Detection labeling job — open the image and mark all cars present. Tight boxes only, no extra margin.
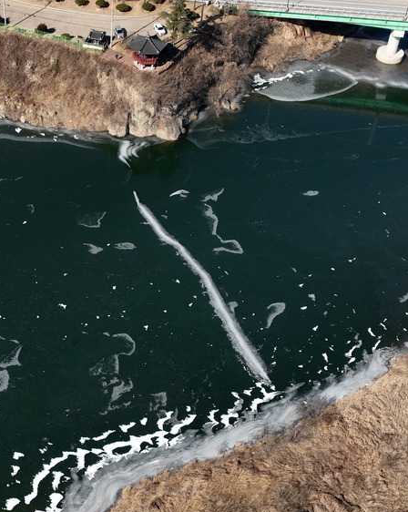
[154,21,167,34]
[114,22,125,37]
